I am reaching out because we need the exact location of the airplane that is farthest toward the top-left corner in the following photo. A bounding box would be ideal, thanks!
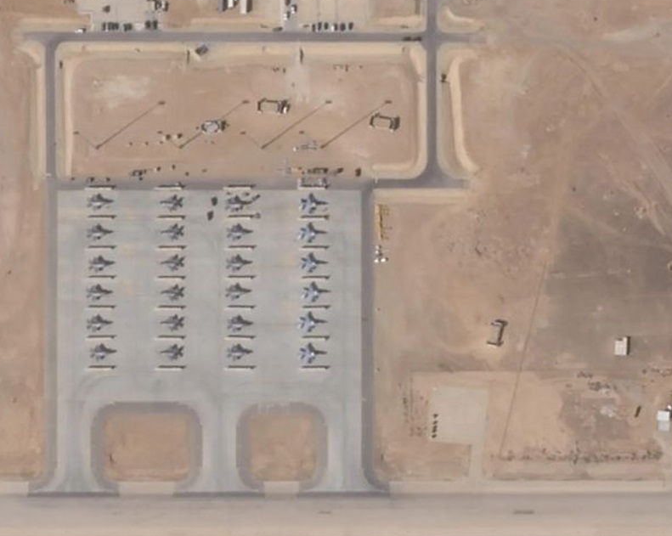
[87,194,109,210]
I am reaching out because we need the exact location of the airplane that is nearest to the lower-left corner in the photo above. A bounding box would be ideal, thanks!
[90,344,114,361]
